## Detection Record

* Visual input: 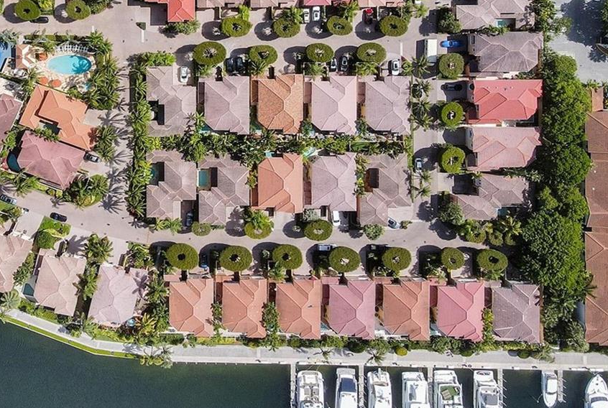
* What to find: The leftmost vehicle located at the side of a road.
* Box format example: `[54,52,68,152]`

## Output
[0,193,18,207]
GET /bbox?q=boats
[581,371,608,408]
[472,369,499,408]
[433,368,466,408]
[537,370,559,408]
[402,366,433,408]
[298,364,324,408]
[335,366,359,408]
[366,366,391,408]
